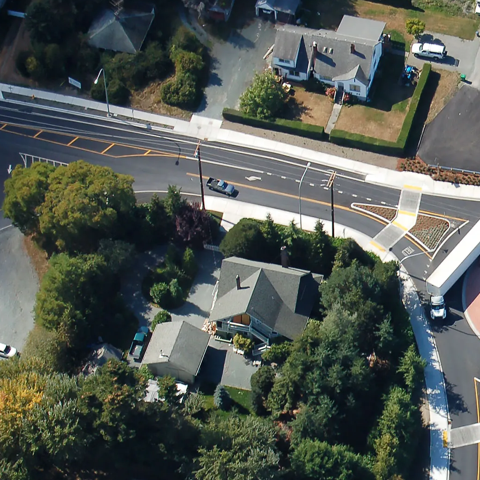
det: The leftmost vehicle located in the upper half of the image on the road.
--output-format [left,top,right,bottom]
[203,177,237,195]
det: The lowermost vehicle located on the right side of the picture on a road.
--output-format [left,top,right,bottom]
[428,285,449,322]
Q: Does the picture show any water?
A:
No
